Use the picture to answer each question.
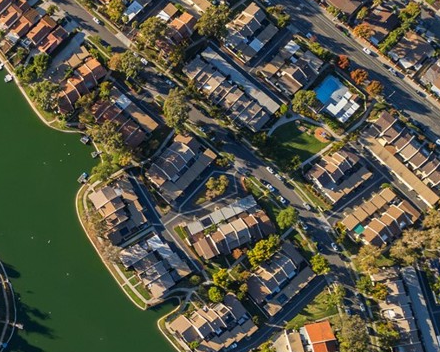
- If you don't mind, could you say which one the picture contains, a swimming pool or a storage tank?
swimming pool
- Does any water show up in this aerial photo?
Yes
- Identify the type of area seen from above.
residential area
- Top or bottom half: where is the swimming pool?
top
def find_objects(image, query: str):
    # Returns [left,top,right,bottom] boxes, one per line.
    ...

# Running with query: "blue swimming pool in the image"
[315,74,341,104]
